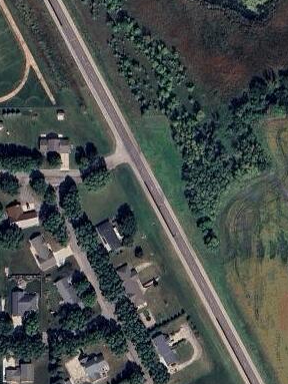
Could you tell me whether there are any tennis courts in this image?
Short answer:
No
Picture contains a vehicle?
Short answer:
No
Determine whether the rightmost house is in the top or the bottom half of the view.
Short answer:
bottom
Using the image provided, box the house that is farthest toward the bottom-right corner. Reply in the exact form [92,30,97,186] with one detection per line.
[151,333,180,365]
